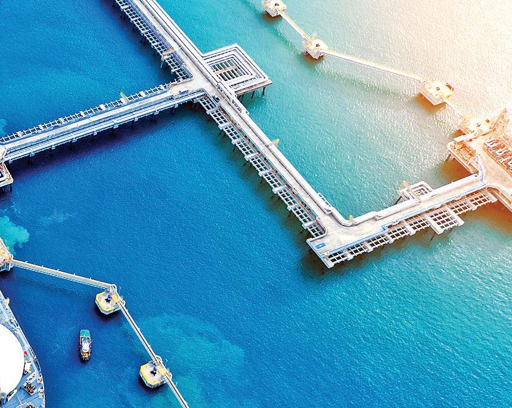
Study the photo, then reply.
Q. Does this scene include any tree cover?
No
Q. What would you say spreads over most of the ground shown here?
water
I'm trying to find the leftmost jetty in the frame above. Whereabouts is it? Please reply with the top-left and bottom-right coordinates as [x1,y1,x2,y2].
[1,81,210,167]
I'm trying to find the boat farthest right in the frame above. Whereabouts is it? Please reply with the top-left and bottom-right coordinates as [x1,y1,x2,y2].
[78,329,90,362]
